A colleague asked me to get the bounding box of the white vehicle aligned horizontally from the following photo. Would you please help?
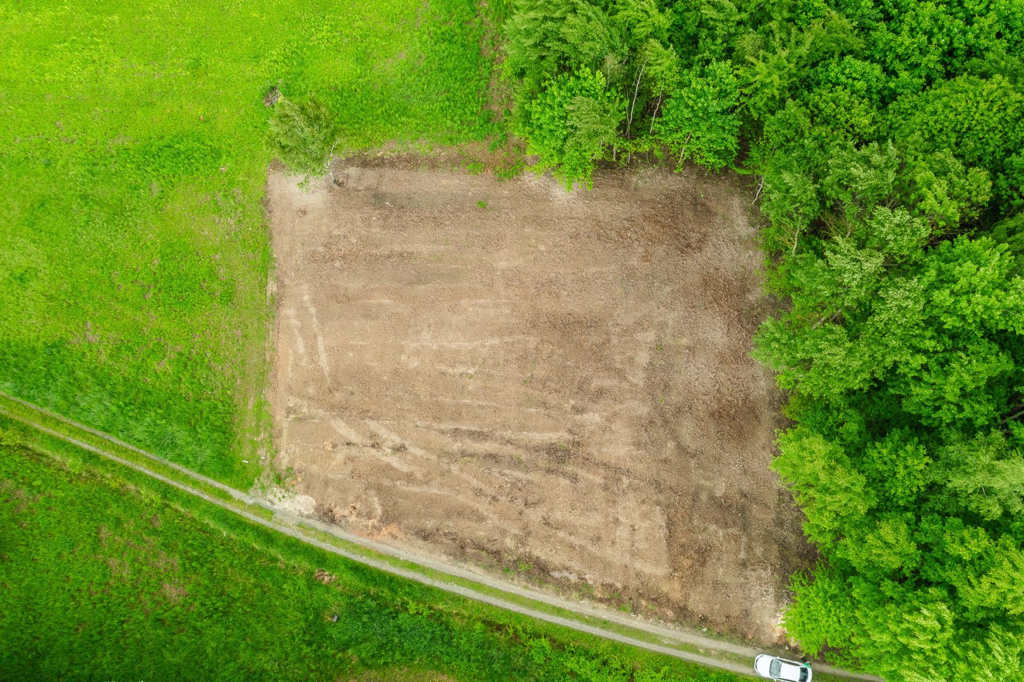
[754,651,814,682]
